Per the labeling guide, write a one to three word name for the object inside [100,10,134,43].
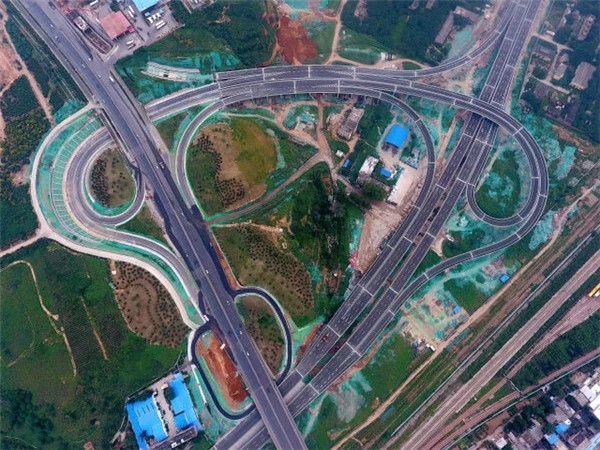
building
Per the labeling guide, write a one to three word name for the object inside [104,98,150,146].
bridge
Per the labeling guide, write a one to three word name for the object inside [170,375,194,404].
building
